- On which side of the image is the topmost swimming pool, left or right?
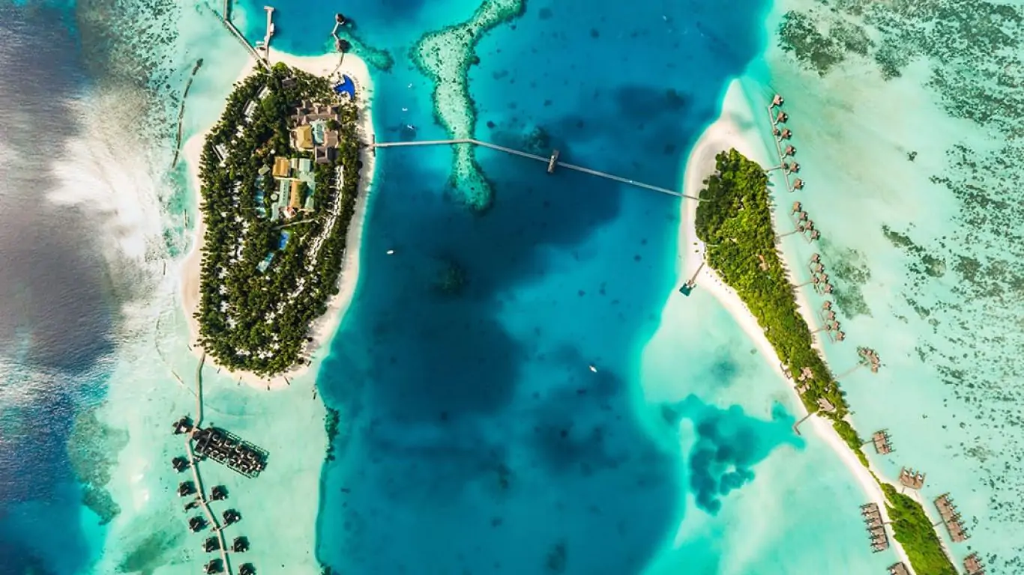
left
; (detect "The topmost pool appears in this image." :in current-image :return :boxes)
[332,73,355,99]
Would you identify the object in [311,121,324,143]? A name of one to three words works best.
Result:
swimming pool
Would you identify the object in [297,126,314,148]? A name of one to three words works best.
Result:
building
